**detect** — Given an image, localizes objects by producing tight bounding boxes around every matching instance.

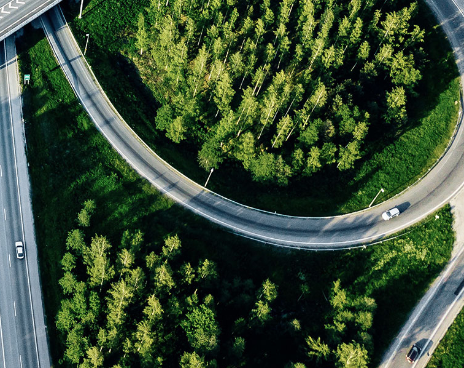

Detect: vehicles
[406,341,424,362]
[14,240,24,260]
[381,205,402,219]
